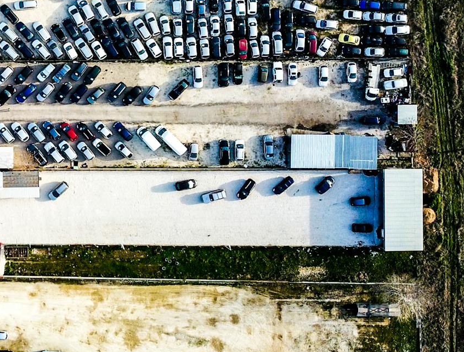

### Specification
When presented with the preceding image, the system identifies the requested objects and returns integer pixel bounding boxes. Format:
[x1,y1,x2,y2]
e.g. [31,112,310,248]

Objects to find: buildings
[0,147,13,169]
[286,135,377,171]
[376,169,424,251]
[390,105,418,125]
[0,172,42,199]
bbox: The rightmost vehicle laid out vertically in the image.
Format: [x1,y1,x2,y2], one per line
[362,62,380,102]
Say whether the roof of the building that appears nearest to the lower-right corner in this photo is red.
No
